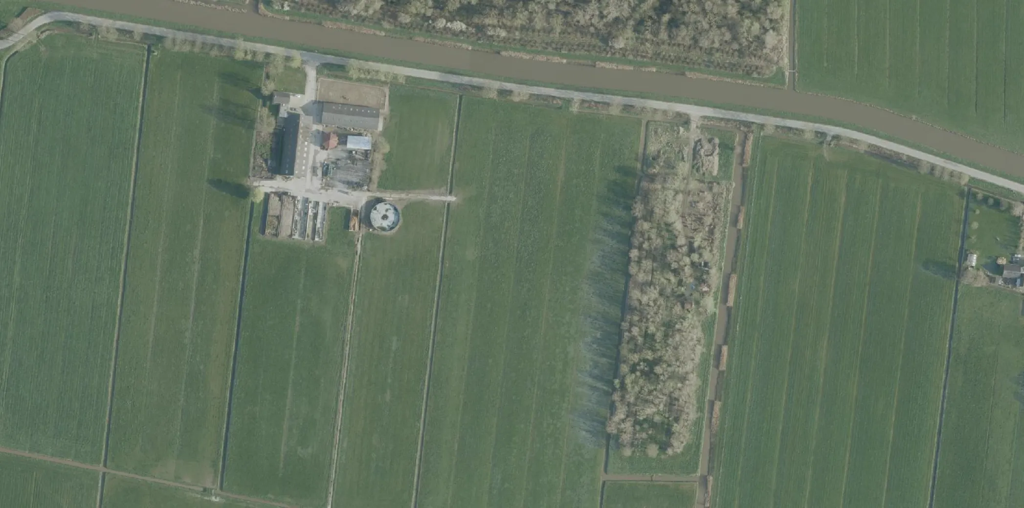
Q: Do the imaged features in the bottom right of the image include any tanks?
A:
No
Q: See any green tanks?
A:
No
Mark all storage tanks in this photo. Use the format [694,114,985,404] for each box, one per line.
[370,203,399,232]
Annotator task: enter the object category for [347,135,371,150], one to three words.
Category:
shed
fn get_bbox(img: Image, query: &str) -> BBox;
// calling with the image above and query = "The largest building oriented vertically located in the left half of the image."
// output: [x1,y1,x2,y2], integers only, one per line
[280,112,313,178]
